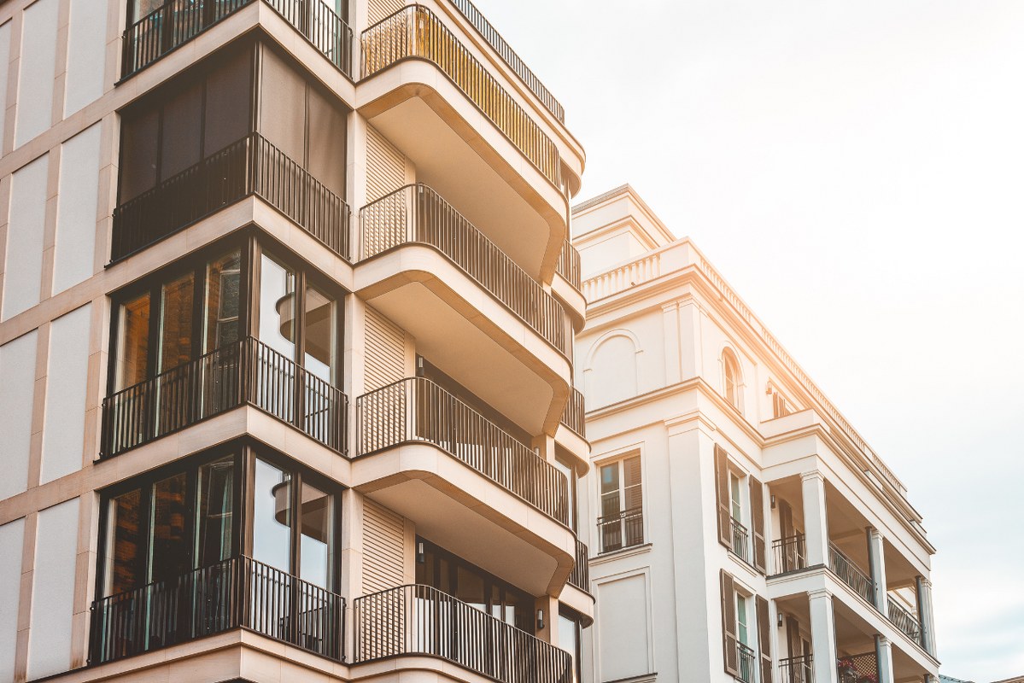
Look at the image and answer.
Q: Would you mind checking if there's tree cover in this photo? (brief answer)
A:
No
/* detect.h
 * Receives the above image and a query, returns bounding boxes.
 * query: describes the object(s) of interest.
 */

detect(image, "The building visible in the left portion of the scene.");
[0,0,594,683]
